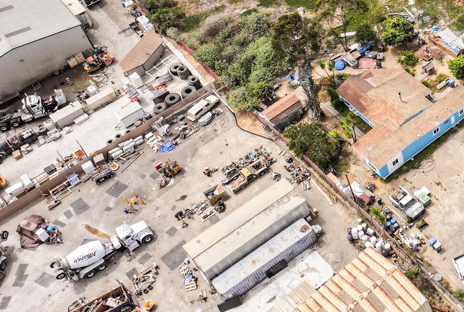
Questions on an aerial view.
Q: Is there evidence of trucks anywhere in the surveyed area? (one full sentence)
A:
Yes, a truck is visible in the scene.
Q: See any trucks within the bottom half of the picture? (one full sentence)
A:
Yes, within the bottom half of the picture there is a truck.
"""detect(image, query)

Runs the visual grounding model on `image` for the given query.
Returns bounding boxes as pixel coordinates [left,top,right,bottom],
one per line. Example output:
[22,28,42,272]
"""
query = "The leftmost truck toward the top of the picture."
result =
[2,88,65,136]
